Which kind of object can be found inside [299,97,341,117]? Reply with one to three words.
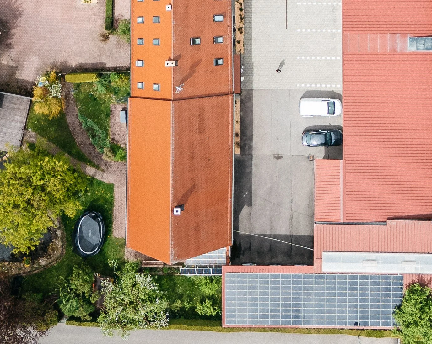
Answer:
vehicle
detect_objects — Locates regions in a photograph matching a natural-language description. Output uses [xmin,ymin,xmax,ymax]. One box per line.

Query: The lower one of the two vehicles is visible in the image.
[302,129,342,148]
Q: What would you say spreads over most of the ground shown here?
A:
buildings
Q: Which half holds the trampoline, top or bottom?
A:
bottom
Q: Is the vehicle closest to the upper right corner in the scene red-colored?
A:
No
